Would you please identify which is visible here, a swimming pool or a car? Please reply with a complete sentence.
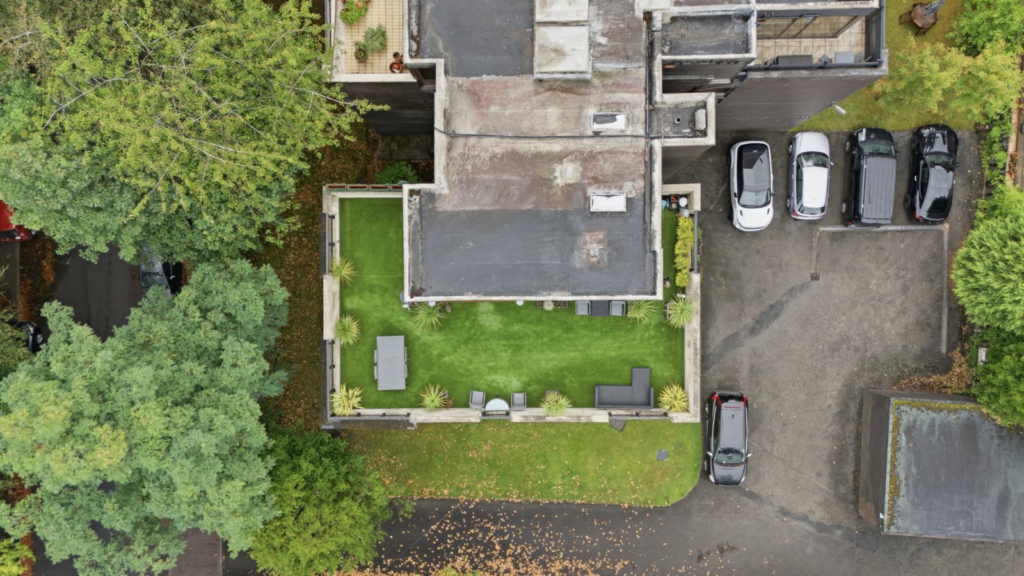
The one in the frame is a car.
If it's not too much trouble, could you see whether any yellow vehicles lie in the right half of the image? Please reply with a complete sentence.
No, the scene shows no yellow vehicle in the right half of the image.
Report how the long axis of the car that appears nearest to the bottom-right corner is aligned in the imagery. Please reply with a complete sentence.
I'd say the car that appears nearest to the bottom-right corner is aligned up and down in the picture.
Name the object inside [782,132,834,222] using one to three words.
car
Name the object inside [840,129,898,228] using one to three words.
car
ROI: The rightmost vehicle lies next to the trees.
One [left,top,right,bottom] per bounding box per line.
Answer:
[899,125,958,225]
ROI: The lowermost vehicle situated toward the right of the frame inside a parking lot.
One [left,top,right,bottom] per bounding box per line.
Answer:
[704,390,752,484]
